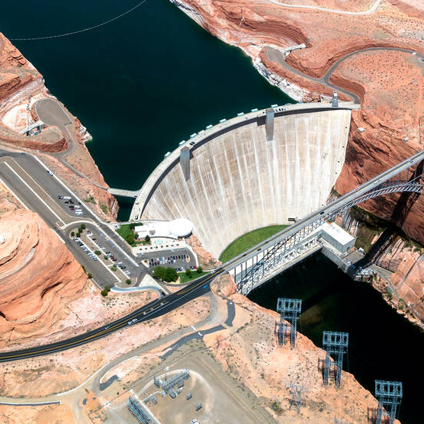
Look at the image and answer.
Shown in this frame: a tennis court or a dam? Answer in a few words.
dam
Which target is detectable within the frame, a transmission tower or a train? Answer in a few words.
transmission tower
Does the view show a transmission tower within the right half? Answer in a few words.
Yes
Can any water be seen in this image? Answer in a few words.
Yes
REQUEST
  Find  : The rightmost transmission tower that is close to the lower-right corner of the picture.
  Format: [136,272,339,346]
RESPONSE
[370,381,403,424]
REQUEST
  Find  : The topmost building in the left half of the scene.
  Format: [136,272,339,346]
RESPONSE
[135,219,193,242]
